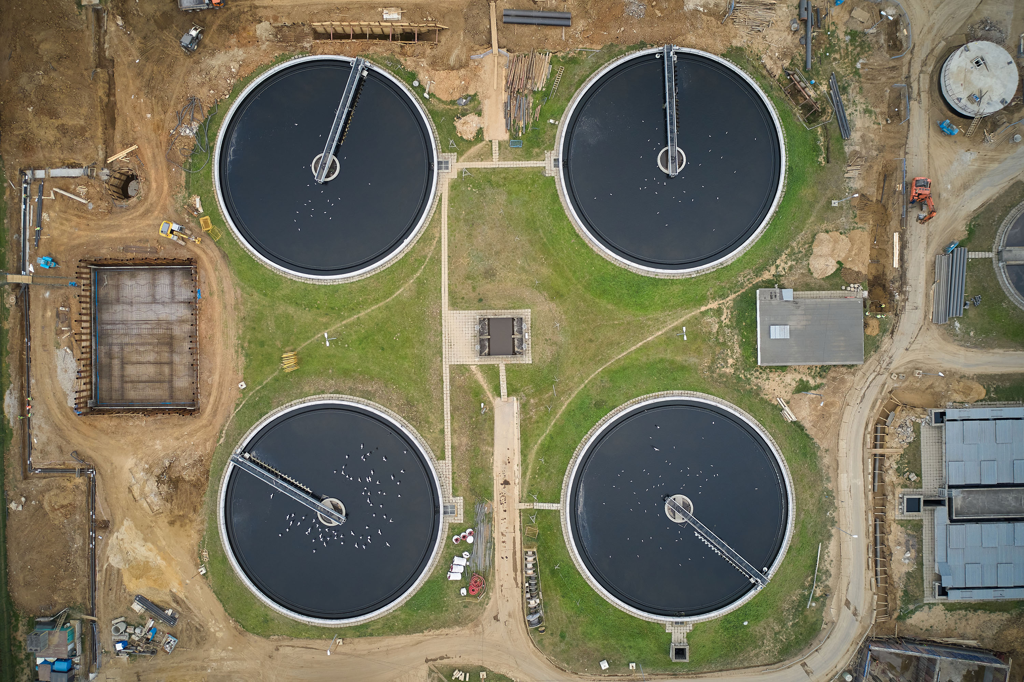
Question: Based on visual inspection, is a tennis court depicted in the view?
No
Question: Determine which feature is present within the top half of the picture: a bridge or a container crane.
bridge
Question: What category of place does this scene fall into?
industrial area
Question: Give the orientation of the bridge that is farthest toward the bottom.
at an angle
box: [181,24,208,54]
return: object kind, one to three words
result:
work vehicle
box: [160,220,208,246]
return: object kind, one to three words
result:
work vehicle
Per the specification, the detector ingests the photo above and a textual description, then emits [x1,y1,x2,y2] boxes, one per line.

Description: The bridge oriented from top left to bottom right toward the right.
[666,497,772,592]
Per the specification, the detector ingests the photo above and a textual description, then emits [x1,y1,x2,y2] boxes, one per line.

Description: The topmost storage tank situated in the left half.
[214,54,438,279]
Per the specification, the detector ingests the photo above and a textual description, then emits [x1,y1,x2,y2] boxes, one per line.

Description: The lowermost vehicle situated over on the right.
[908,181,931,228]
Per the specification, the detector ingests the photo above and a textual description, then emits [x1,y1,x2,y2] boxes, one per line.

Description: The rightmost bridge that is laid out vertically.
[659,42,682,176]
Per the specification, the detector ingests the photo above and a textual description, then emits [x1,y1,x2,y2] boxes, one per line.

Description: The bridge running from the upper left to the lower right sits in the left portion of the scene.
[228,446,346,524]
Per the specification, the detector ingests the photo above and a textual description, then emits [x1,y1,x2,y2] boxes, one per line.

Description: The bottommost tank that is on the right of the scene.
[566,395,793,622]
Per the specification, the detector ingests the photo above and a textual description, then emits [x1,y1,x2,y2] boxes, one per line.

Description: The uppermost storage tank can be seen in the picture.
[937,38,1019,119]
